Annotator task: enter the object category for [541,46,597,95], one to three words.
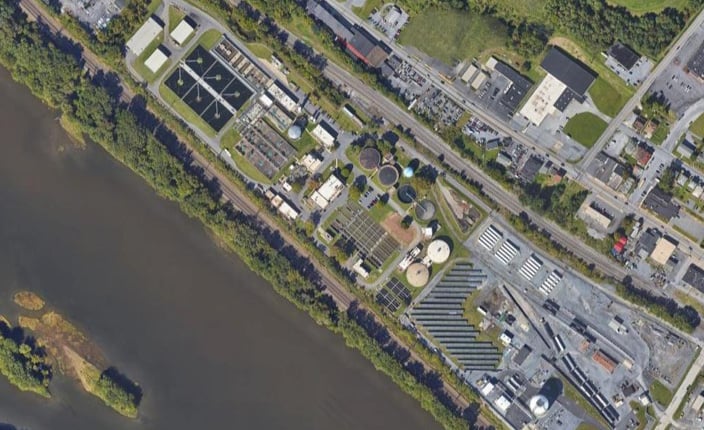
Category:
building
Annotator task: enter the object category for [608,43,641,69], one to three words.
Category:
building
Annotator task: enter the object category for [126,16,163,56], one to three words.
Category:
shed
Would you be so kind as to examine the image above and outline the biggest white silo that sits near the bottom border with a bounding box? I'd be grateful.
[529,394,549,414]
